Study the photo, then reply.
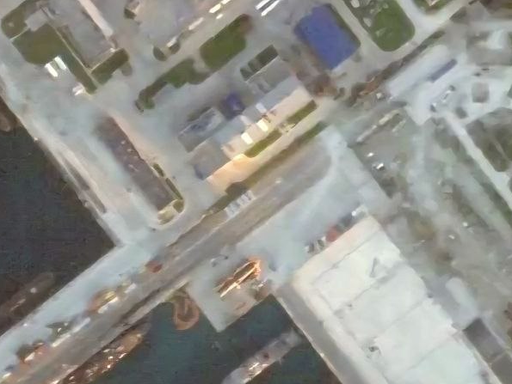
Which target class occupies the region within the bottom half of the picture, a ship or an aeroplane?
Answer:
ship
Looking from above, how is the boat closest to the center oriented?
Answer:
on a diagonal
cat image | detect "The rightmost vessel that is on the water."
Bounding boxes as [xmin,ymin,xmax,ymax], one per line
[223,326,303,384]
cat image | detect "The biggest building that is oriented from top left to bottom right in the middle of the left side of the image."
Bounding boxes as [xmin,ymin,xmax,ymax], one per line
[98,116,174,210]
